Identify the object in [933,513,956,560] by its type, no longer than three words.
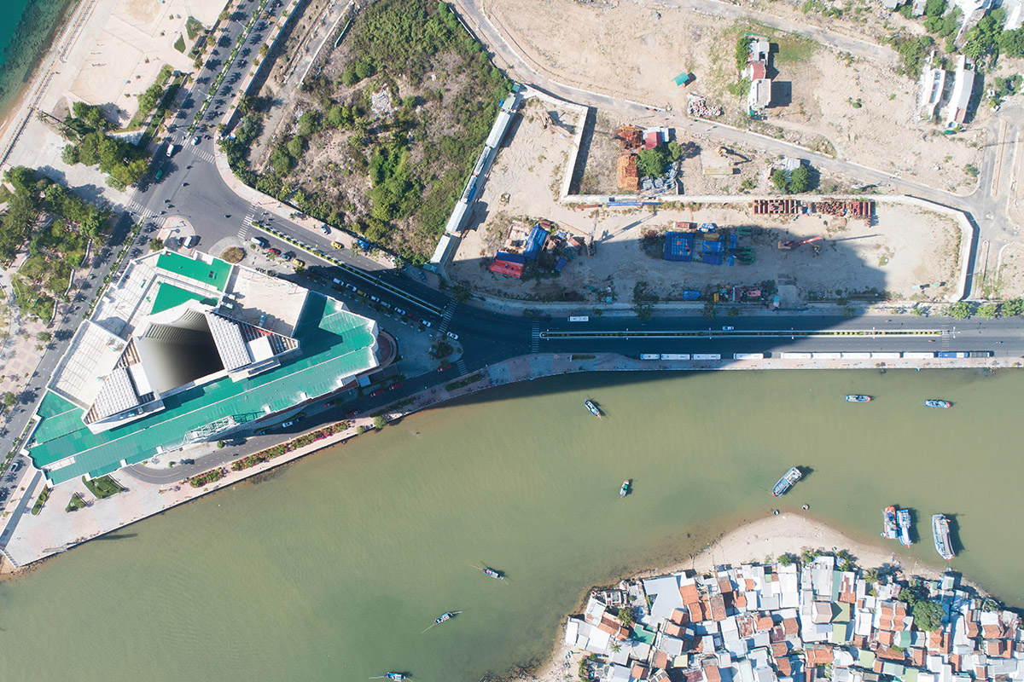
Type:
boat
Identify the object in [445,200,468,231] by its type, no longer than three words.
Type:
building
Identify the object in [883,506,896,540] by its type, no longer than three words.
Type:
boat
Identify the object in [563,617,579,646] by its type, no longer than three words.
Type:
house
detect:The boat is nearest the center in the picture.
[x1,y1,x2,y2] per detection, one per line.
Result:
[583,399,601,418]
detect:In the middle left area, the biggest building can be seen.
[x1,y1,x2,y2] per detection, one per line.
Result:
[17,245,400,490]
